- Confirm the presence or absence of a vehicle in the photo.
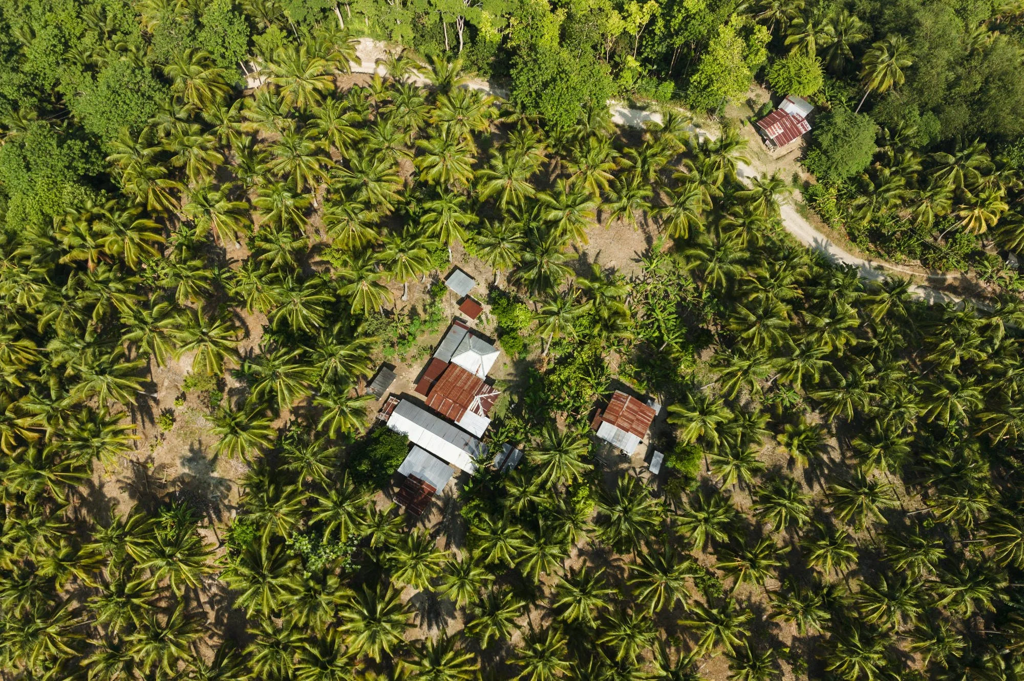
No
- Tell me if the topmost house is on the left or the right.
right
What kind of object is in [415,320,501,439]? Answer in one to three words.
house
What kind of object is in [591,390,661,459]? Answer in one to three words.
house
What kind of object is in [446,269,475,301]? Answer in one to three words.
shed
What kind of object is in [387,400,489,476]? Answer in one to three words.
barn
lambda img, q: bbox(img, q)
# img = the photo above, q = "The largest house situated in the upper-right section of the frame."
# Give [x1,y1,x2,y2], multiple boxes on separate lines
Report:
[753,94,814,154]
